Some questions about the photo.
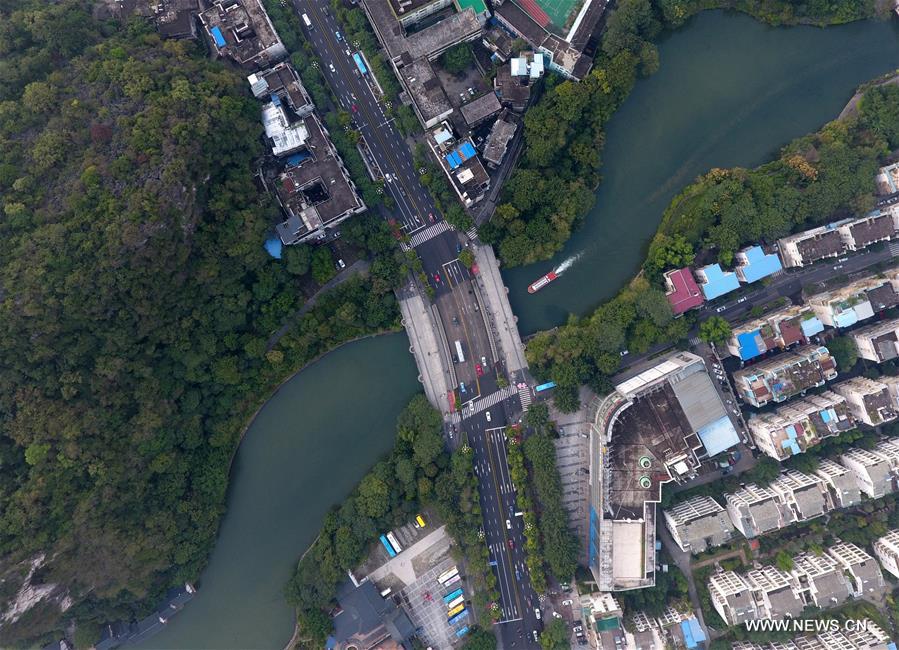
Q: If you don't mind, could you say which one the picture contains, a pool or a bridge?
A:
bridge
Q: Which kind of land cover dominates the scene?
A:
trees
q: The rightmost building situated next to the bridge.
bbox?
[585,350,740,591]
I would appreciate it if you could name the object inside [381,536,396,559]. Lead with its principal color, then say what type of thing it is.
blue vehicle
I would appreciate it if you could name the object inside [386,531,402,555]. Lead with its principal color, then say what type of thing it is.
white vehicle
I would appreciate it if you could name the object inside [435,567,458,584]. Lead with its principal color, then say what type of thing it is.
white vehicle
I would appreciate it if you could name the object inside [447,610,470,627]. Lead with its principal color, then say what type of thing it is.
blue vehicle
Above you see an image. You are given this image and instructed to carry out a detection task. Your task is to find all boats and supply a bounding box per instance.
[529,272,559,291]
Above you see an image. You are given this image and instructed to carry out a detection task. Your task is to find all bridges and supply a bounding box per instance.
[400,244,526,412]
